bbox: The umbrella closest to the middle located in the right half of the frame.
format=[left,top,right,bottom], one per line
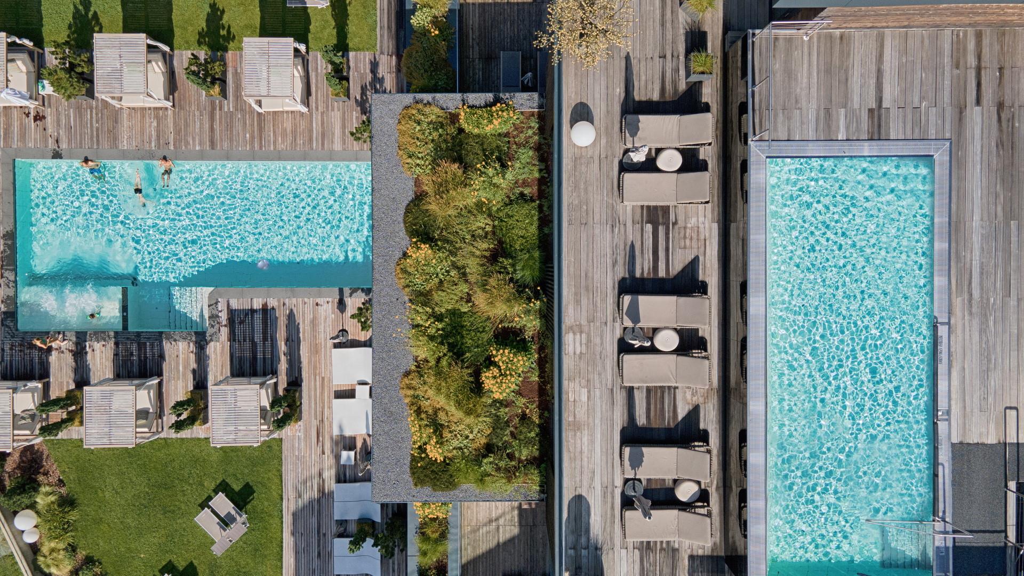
[624,327,652,350]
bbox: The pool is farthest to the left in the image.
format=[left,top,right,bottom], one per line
[16,159,372,331]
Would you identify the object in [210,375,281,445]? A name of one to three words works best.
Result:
building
